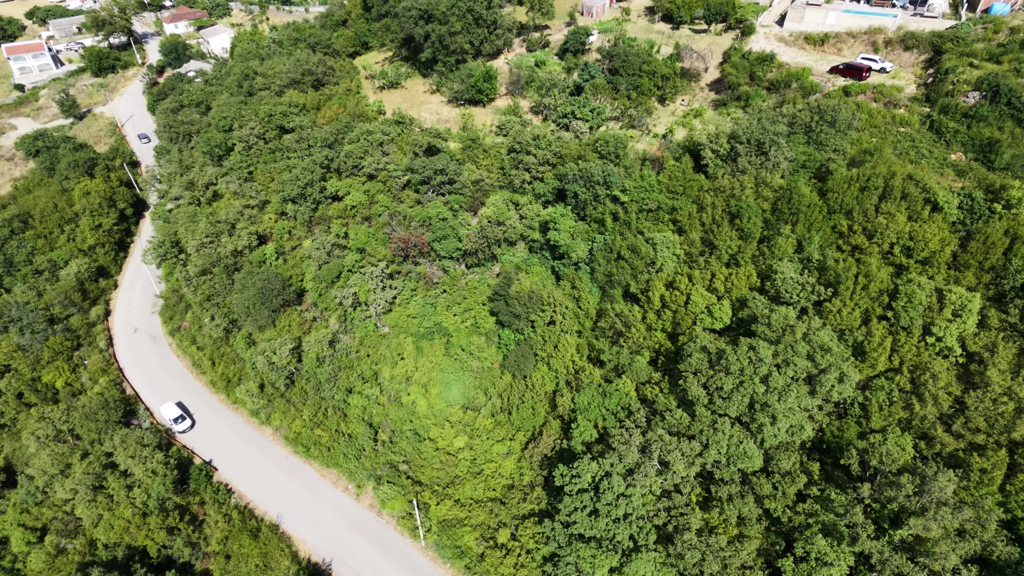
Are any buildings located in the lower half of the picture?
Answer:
No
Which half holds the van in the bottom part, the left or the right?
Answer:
left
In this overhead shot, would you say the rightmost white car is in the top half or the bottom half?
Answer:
top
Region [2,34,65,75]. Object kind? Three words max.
house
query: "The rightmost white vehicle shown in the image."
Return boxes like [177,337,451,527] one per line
[857,53,893,75]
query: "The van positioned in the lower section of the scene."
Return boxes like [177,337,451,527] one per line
[159,401,192,433]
